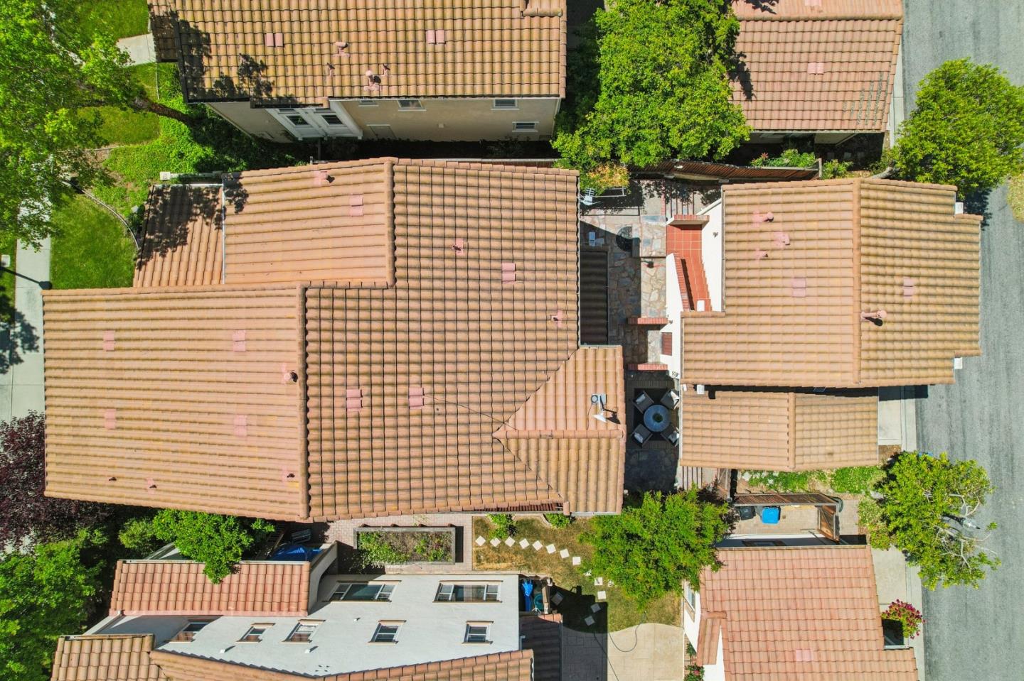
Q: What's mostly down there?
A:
buildings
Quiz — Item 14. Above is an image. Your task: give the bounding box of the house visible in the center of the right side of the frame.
[660,173,986,476]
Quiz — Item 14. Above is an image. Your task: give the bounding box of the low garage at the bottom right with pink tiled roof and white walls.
[684,532,922,681]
